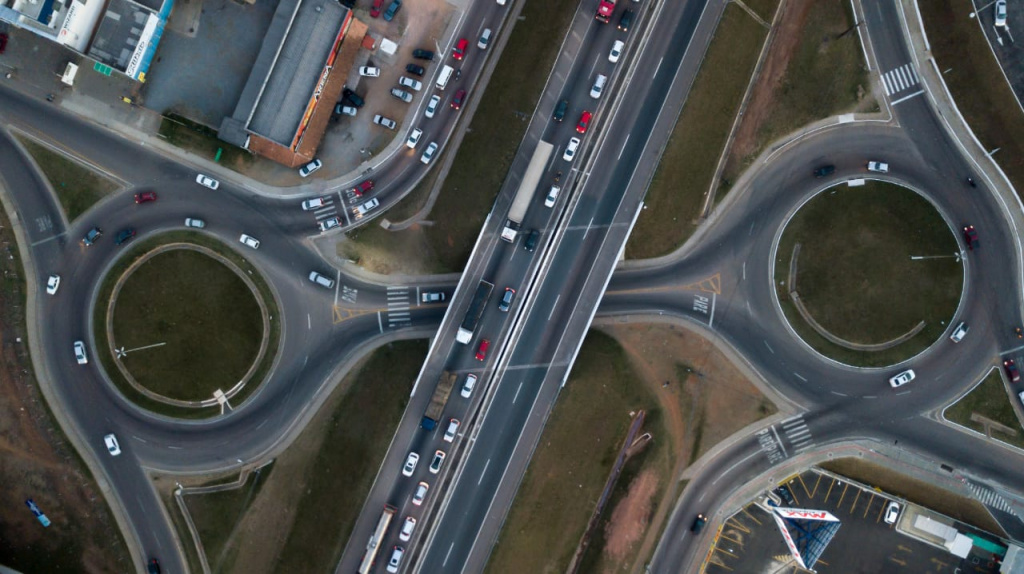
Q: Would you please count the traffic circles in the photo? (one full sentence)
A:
Looking from above, you can make out 2 traffic circles.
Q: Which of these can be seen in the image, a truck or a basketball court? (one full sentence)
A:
I can see a truck in this picture.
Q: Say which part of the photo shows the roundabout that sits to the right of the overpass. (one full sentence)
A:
Look in the right portion of the view to spot the roundabout that sits to the right of the overpass.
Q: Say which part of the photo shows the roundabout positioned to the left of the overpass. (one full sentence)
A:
The roundabout positioned to the left of the overpass appears toward the left of the photo.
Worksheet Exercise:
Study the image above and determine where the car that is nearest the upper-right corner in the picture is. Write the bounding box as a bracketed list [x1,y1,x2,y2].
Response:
[994,1,1007,25]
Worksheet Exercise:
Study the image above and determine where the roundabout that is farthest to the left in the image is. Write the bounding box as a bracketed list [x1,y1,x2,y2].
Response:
[49,186,327,464]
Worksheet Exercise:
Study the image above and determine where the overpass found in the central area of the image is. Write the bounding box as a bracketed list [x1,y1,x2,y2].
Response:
[409,202,645,397]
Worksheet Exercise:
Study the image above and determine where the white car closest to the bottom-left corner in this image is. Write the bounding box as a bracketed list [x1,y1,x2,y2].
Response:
[105,433,121,455]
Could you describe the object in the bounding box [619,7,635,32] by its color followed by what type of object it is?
black car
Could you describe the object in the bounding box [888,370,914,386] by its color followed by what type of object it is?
white car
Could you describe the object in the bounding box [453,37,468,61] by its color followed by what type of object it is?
red vehicle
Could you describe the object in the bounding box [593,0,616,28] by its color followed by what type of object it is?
red truck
